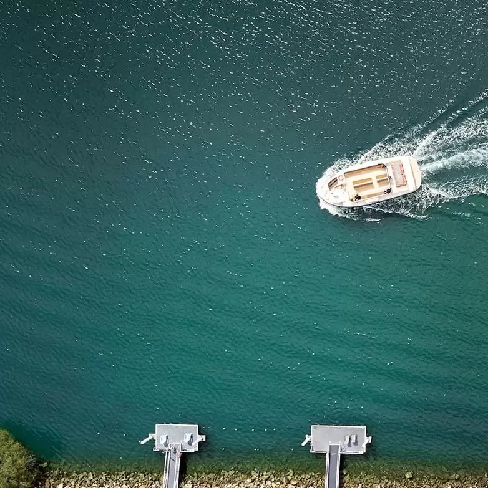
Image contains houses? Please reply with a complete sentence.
No, there is no house in the image.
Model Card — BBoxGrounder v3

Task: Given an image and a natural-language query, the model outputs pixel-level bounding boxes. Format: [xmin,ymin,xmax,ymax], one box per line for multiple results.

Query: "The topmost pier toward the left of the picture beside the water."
[148,423,206,452]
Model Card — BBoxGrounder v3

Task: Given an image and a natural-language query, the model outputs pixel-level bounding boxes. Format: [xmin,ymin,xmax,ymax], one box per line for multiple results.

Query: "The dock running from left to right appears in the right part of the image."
[305,424,372,454]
